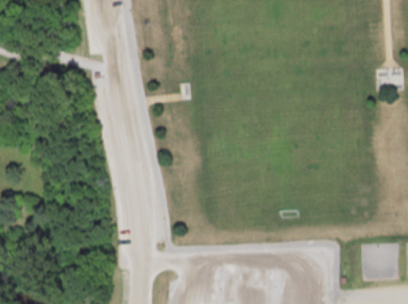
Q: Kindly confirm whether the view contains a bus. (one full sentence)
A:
No, the frame has no bus in it.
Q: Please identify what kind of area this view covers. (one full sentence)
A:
The picture captures a sports ground.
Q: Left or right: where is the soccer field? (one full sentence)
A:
The soccer field sits on the right side.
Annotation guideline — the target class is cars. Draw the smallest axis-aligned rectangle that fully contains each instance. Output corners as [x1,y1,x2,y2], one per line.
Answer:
[112,1,124,7]
[119,240,132,245]
[120,230,131,234]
